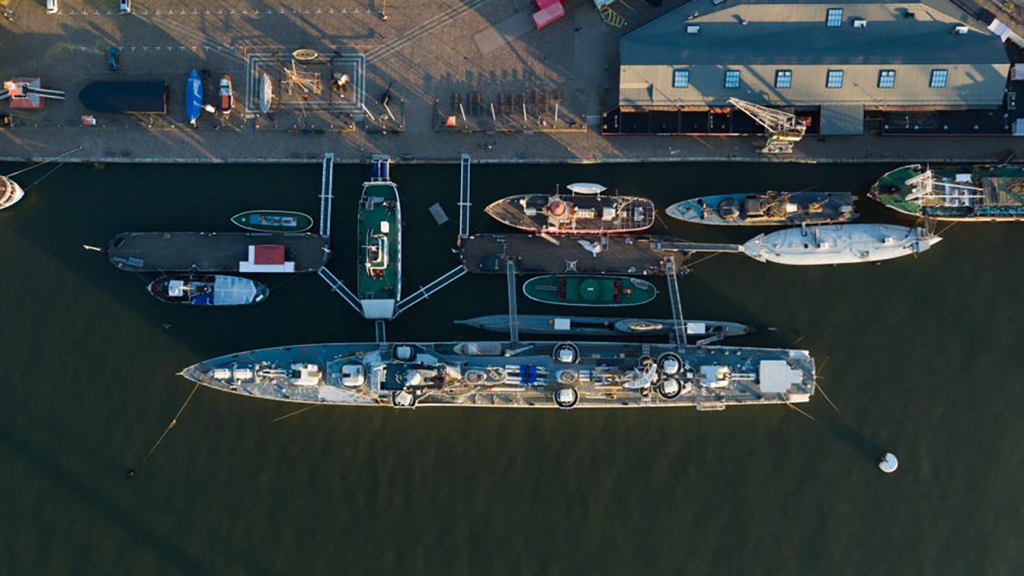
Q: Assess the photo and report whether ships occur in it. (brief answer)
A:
Yes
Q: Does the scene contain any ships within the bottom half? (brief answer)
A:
Yes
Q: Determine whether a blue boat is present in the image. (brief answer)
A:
Yes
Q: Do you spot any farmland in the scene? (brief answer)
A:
No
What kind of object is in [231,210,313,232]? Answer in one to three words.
boat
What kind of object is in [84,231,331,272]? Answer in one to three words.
ship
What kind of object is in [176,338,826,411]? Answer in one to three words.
ship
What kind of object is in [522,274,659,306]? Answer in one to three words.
vessel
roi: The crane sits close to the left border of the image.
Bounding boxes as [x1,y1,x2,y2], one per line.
[0,78,66,115]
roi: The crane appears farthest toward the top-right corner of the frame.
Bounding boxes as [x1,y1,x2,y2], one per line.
[715,95,812,155]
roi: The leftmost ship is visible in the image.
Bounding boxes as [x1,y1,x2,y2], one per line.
[0,178,23,215]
